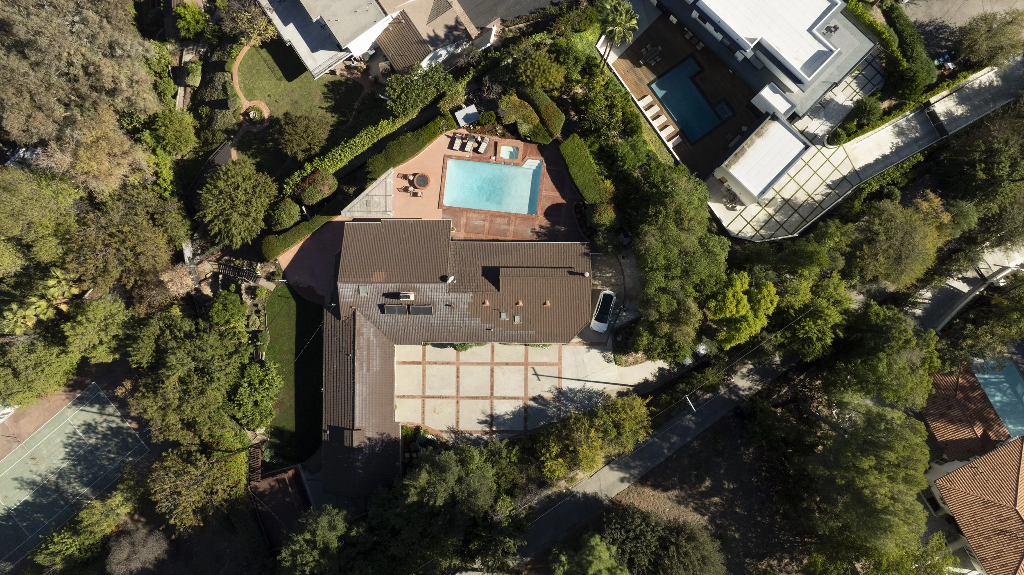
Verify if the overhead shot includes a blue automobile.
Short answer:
No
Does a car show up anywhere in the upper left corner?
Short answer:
No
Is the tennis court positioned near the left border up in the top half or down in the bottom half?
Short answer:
bottom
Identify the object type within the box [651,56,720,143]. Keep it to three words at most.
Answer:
swimming pool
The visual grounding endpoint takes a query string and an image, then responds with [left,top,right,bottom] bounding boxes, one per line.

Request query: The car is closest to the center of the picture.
[588,287,619,335]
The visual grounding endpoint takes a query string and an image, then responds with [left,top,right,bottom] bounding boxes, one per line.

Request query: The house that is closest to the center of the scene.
[321,219,592,497]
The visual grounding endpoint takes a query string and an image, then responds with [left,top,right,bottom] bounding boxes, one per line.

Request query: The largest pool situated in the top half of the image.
[443,157,542,214]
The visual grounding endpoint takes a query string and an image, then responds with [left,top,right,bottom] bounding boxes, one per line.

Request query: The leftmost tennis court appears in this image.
[0,383,149,575]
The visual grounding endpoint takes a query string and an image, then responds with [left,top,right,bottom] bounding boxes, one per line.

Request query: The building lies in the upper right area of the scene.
[658,0,879,203]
